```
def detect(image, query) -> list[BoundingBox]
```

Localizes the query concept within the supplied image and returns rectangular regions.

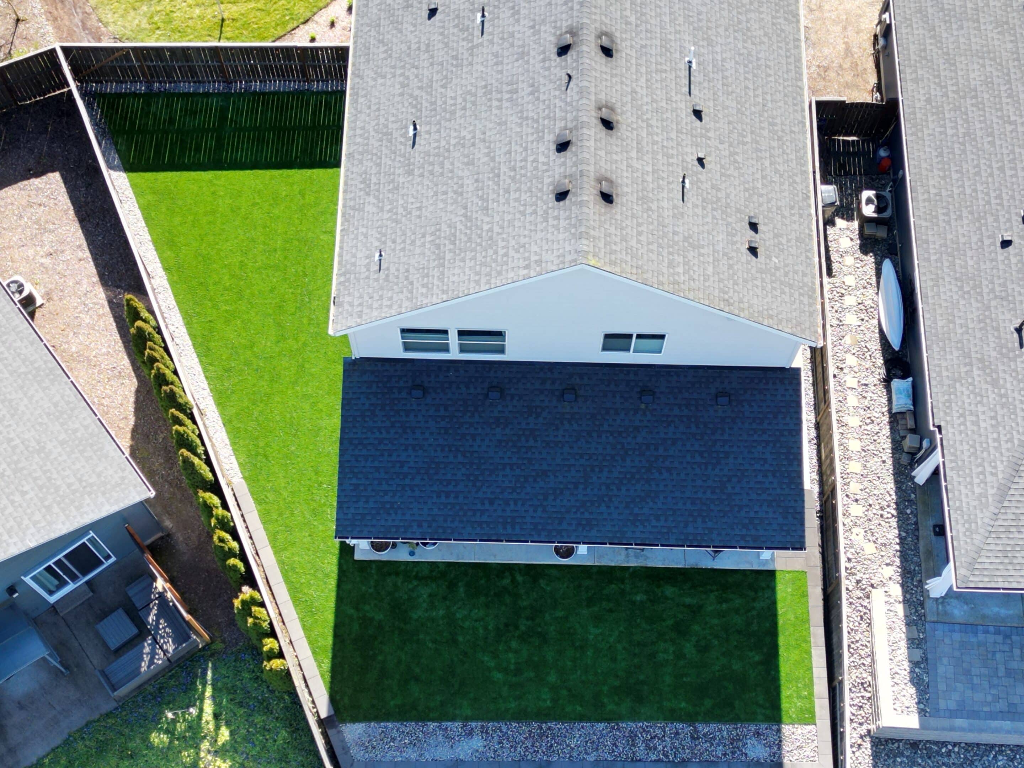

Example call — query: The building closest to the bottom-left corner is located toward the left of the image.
[0,277,165,626]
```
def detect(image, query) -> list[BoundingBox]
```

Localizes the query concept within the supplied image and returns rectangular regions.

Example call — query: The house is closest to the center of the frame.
[329,0,823,560]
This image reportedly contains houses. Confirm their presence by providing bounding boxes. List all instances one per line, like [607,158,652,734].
[329,0,823,560]
[870,0,1024,601]
[0,277,165,626]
